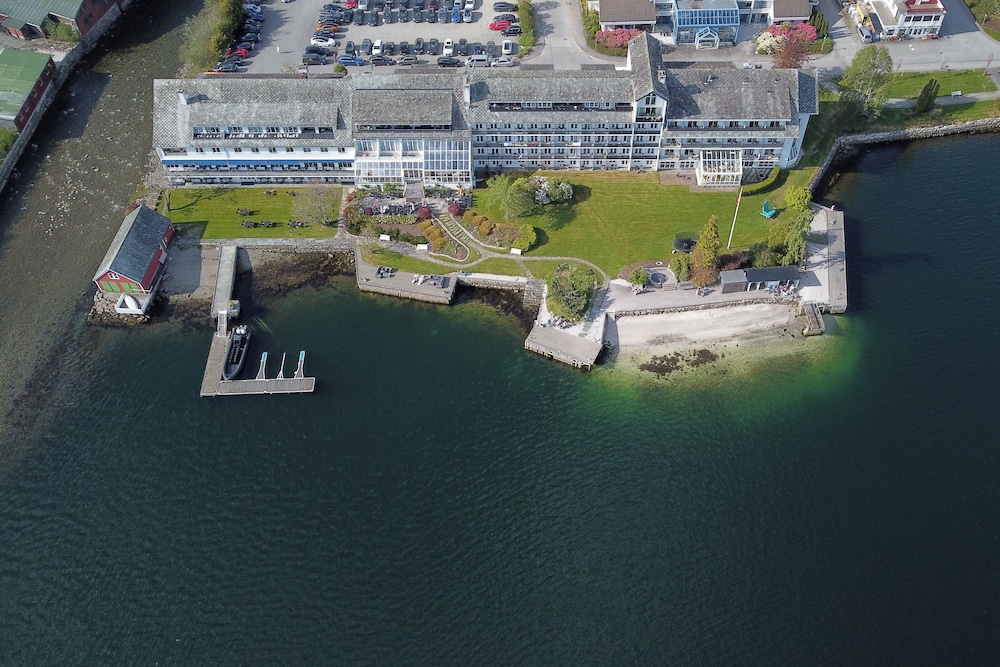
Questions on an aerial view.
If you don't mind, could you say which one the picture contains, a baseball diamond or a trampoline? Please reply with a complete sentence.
There is a trampoline in the scene.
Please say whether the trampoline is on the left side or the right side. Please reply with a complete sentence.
The trampoline is on the right side of the image.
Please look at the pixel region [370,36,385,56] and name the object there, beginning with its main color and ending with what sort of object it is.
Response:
white vehicle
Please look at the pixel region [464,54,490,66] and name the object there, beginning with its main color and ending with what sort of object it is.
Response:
gray vehicle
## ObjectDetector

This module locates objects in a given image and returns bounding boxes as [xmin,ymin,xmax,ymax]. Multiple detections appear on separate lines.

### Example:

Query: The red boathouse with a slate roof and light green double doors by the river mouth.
[89,201,175,300]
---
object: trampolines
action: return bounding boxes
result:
[673,230,700,256]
